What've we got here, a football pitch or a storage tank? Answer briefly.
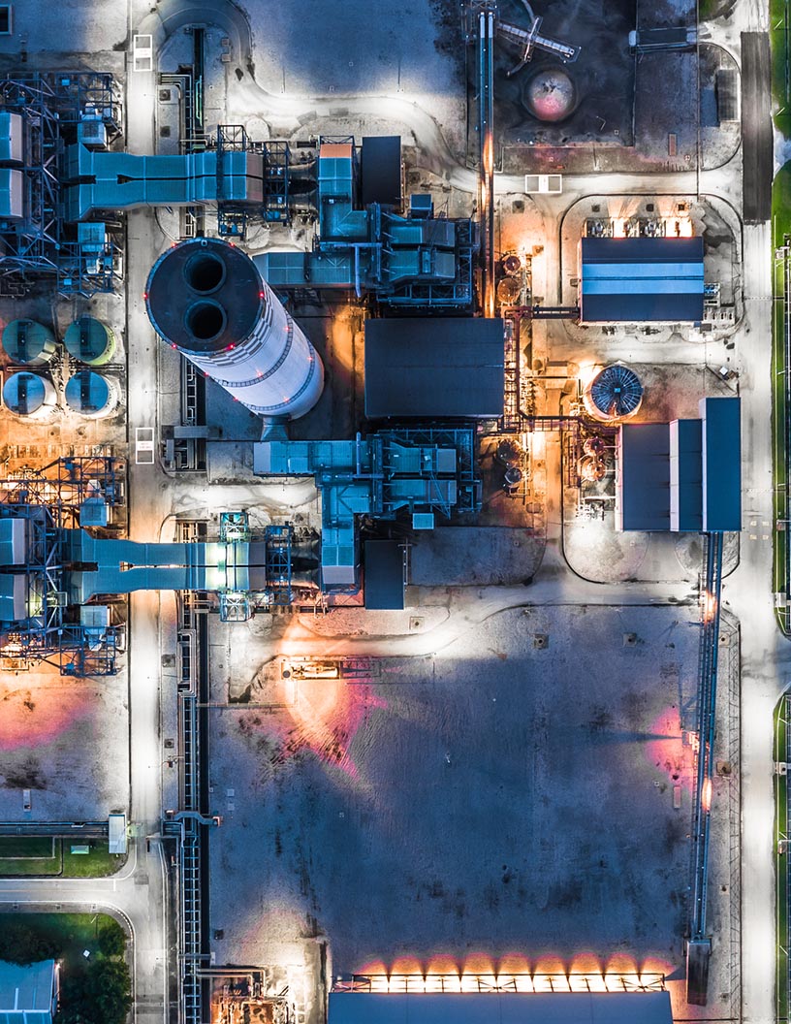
storage tank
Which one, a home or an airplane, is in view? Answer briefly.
home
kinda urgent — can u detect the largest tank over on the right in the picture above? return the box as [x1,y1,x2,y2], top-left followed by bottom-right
[583,363,647,424]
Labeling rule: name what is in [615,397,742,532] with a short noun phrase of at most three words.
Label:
building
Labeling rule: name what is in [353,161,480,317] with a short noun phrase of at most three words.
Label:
house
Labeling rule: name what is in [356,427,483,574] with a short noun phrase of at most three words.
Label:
house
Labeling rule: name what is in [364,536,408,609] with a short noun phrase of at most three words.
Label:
building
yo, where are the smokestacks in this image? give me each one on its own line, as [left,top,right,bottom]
[142,229,325,423]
